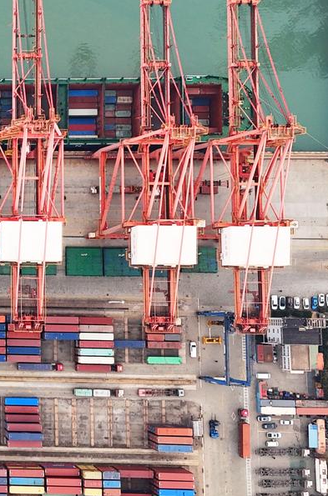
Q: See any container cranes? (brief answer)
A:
Yes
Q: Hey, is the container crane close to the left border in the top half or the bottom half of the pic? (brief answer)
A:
top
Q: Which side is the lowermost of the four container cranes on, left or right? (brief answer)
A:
right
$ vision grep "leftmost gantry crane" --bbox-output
[0,0,65,337]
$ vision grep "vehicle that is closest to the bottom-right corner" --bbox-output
[313,458,327,496]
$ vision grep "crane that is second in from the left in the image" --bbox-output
[79,0,219,338]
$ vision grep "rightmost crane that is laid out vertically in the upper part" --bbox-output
[169,0,319,339]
